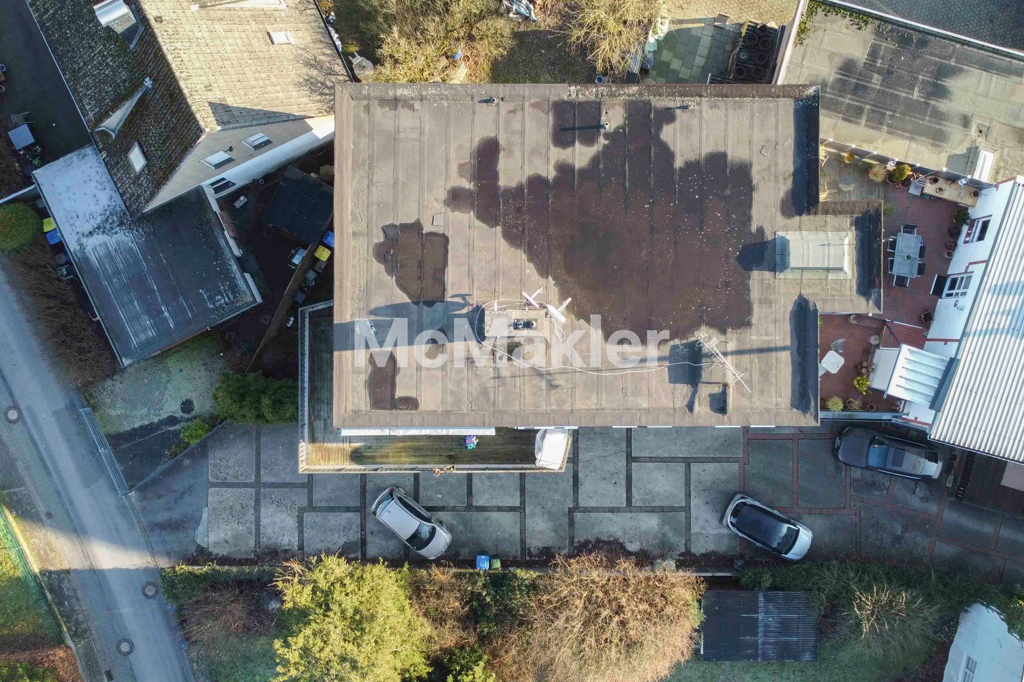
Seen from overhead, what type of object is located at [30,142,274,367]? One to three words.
building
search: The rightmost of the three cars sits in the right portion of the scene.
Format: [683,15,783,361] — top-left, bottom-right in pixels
[829,426,946,485]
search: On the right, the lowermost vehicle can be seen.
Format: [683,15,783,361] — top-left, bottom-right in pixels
[718,490,813,563]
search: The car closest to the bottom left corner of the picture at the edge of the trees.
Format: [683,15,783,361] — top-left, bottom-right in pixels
[369,482,454,562]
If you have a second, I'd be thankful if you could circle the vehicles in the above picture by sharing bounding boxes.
[369,482,454,562]
[829,426,946,485]
[718,490,813,563]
